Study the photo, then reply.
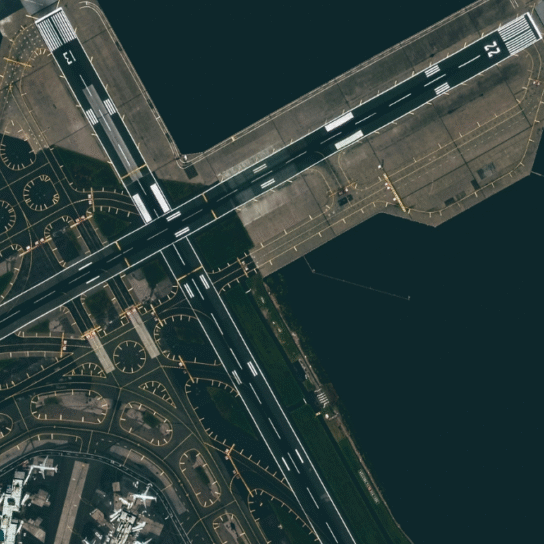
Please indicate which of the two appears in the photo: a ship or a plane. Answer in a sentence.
This aerial view contains a plane.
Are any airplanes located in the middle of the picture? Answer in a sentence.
No, I see no airplane in the middle of the picture.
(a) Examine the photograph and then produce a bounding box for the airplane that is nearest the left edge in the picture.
[32,457,58,481]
